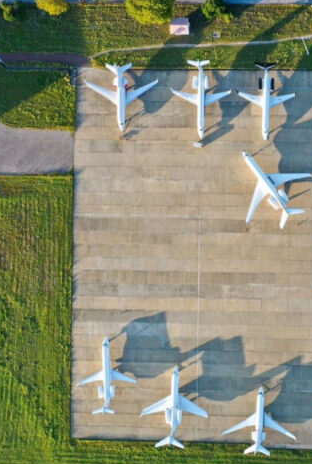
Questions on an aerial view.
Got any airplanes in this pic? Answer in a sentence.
Yes, there's an airplane down there.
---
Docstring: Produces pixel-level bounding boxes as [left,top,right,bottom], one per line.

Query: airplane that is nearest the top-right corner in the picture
[236,63,295,139]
